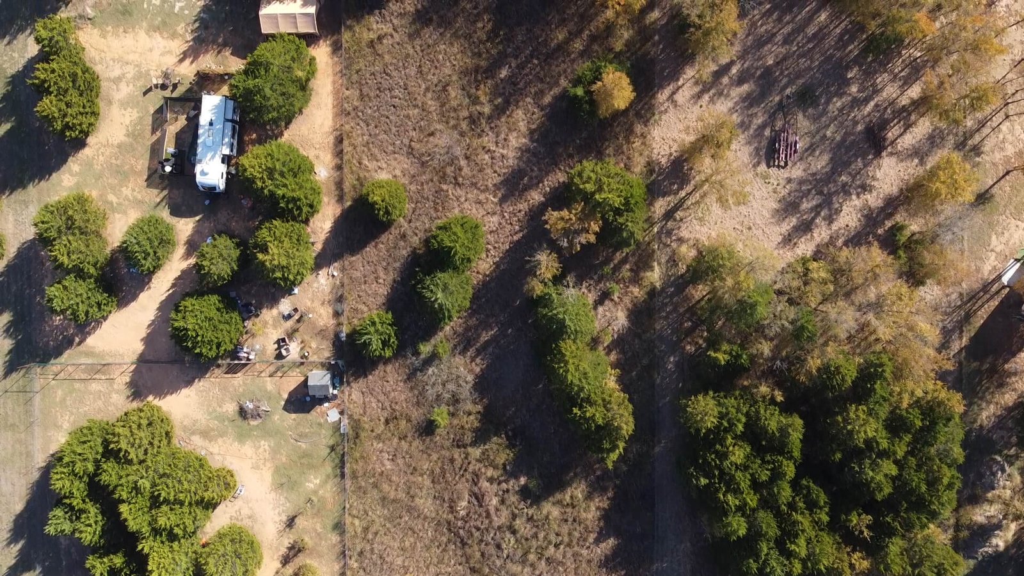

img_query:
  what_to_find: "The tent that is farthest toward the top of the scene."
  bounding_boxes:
[258,0,326,50]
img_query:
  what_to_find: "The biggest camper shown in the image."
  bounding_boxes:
[197,96,245,199]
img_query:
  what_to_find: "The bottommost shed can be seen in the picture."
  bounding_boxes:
[308,369,339,402]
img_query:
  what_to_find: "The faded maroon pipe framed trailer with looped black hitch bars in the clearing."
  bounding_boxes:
[776,91,802,168]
